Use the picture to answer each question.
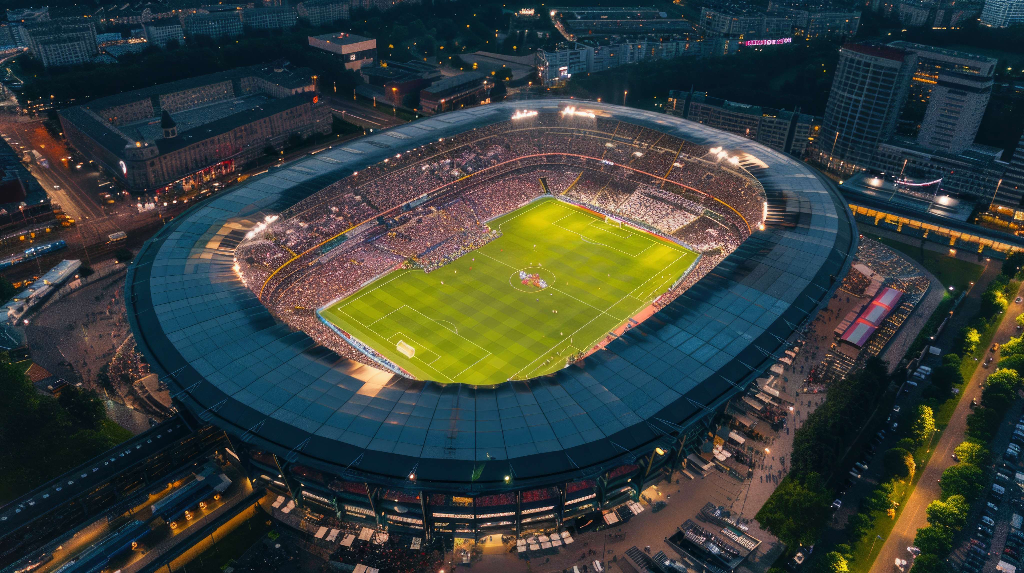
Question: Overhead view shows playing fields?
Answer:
Yes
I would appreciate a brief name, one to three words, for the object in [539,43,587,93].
building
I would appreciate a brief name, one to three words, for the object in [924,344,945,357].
vehicle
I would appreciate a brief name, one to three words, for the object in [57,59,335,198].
building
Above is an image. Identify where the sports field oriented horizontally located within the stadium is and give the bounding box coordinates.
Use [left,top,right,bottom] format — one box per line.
[318,195,707,384]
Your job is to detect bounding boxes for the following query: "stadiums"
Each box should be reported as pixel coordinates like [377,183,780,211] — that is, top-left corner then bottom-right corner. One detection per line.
[119,97,860,573]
